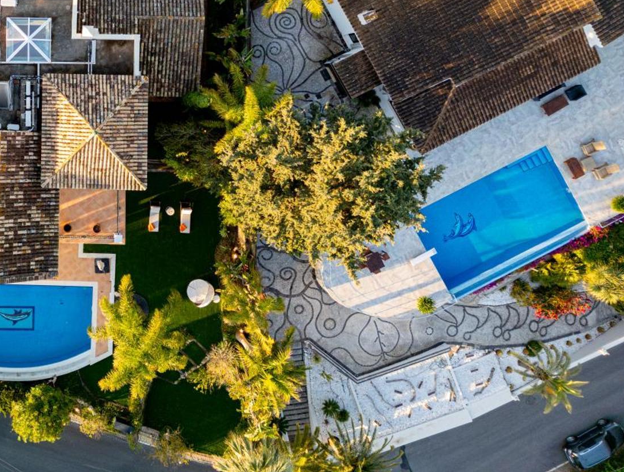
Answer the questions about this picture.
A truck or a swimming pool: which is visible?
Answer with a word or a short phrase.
swimming pool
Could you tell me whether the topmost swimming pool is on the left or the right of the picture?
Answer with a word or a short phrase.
right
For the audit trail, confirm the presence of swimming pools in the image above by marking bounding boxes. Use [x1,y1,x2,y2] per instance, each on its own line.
[0,278,111,389]
[414,146,589,311]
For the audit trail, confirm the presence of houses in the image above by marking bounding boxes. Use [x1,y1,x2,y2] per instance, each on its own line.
[324,0,624,152]
[0,0,208,287]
